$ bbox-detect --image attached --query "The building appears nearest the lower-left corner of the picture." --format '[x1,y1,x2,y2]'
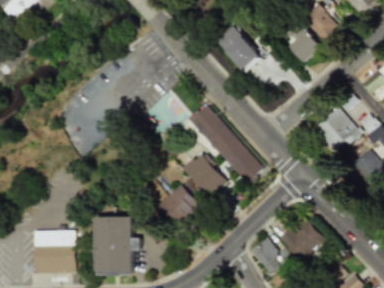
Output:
[34,229,76,273]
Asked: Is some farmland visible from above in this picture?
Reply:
No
